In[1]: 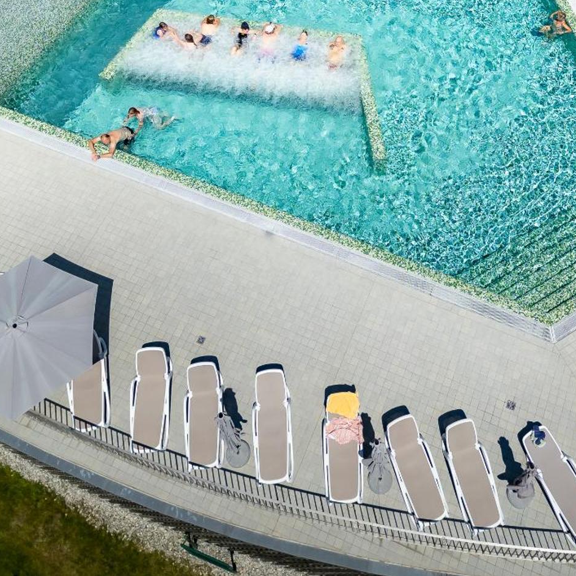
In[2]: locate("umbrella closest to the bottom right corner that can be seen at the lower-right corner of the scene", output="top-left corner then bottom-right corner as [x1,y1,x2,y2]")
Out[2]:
[504,458,539,514]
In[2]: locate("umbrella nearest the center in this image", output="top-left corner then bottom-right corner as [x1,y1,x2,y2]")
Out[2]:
[214,411,252,470]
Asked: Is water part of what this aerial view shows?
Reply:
Yes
